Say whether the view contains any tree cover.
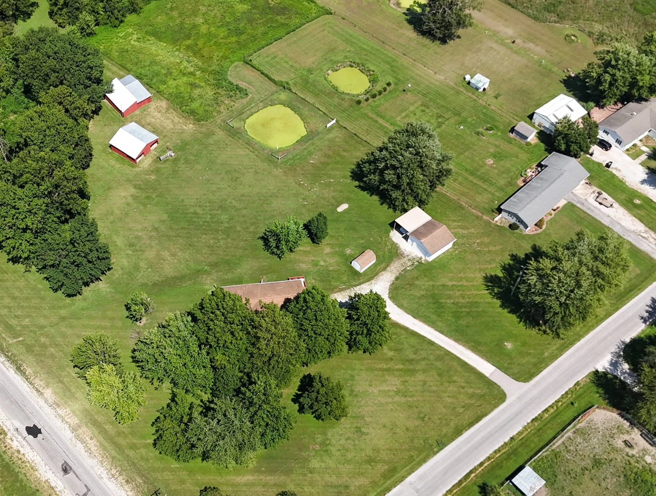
Yes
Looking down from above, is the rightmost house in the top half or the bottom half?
top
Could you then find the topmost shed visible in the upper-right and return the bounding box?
[469,77,494,96]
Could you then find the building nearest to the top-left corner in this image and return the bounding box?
[104,78,156,118]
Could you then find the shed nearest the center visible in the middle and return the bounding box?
[350,247,377,272]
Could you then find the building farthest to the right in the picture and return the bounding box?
[595,99,656,152]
